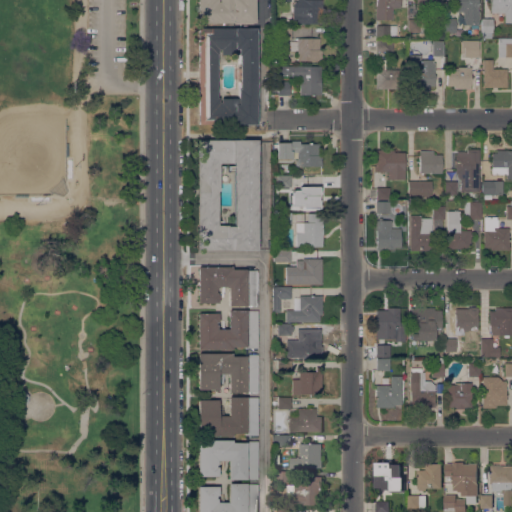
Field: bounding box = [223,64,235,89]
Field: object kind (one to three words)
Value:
swimming pool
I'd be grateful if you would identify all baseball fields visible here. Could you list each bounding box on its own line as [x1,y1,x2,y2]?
[0,0,89,222]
